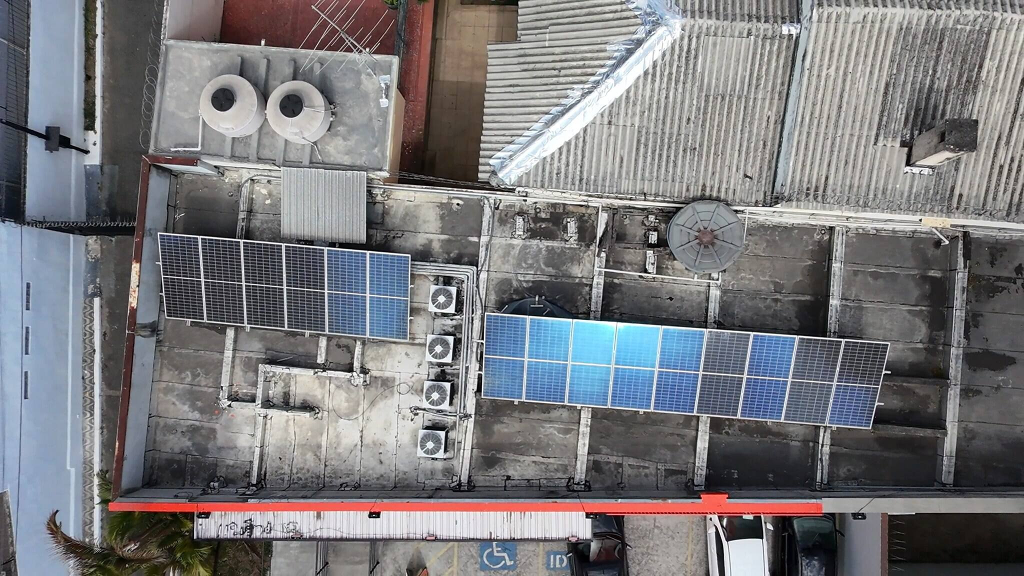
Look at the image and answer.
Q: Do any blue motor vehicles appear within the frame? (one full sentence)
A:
No, the photo shows no blue motor vehicle.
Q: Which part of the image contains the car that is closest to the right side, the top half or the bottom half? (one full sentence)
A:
The bottom half of the photo is where the car that is closest to the right side is.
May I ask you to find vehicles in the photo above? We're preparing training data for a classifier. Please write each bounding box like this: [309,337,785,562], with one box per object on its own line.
[565,515,638,576]
[706,515,779,576]
[777,513,848,576]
